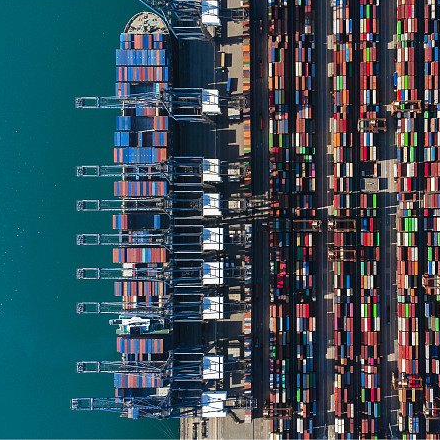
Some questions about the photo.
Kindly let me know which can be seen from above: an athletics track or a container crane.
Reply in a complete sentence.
Visible in the photo is a container crane.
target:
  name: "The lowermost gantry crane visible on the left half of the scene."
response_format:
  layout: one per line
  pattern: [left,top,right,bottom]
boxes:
[70,373,249,424]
